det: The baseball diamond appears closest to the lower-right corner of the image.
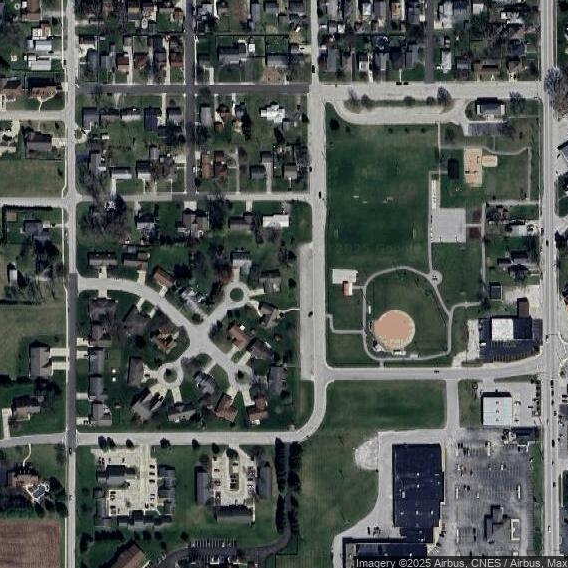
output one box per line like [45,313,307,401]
[365,268,448,358]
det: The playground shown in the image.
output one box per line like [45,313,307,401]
[465,146,497,184]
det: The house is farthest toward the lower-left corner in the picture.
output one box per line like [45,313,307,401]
[8,470,39,493]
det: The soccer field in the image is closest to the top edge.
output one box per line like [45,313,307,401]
[339,200,416,266]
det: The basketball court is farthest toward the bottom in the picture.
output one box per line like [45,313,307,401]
[430,209,466,243]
